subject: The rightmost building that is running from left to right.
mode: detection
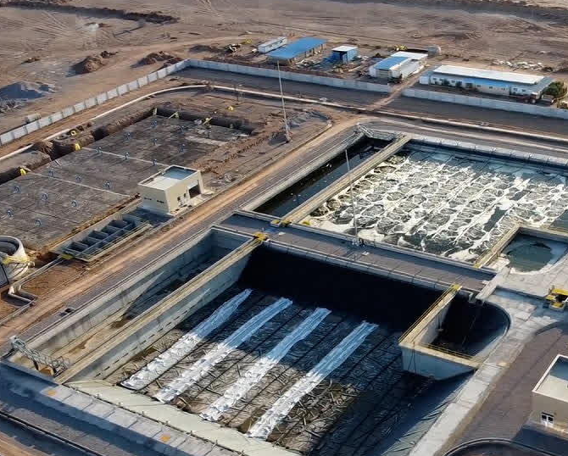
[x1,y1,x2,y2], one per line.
[414,62,553,97]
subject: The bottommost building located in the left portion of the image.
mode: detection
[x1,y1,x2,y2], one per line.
[135,161,217,214]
